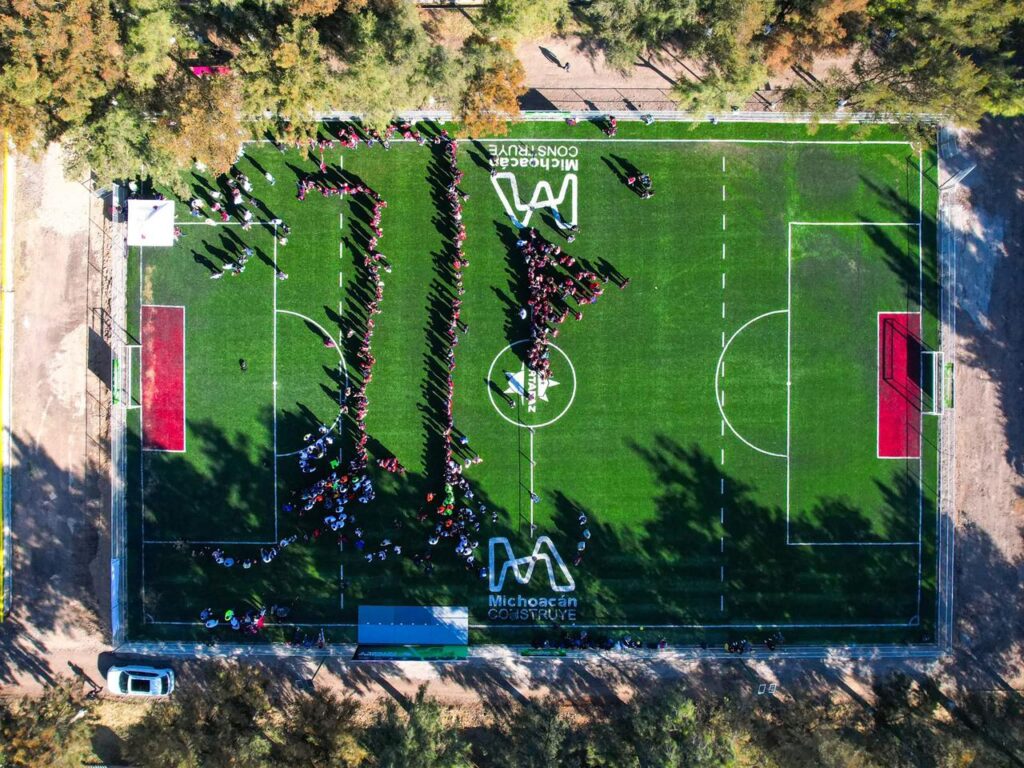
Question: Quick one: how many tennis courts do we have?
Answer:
zero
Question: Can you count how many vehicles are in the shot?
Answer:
1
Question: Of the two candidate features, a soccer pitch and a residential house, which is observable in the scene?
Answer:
soccer pitch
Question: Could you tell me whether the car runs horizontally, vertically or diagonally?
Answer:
horizontally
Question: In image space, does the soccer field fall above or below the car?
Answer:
above it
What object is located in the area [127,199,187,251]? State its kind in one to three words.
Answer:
tent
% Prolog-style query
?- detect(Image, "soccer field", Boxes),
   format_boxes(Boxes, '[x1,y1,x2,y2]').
[127,121,938,644]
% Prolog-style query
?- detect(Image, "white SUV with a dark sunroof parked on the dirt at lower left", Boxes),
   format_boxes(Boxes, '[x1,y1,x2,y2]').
[107,663,178,699]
